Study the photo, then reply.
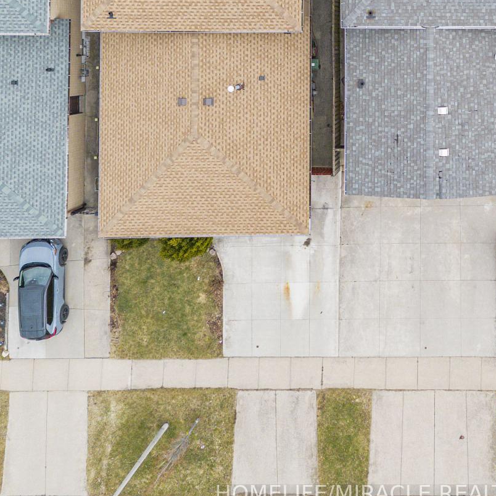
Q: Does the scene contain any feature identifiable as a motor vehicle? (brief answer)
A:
Yes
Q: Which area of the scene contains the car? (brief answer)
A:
left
